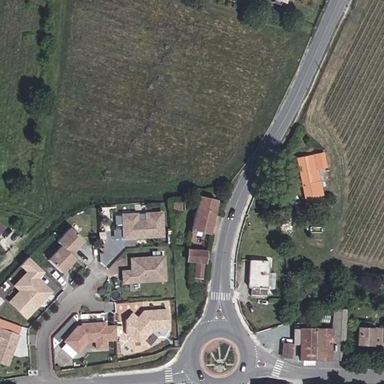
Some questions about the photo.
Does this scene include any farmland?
Yes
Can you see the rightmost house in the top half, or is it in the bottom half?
bottom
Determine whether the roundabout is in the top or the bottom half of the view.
bottom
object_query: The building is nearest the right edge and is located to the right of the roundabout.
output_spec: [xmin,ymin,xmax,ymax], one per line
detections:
[359,328,384,347]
